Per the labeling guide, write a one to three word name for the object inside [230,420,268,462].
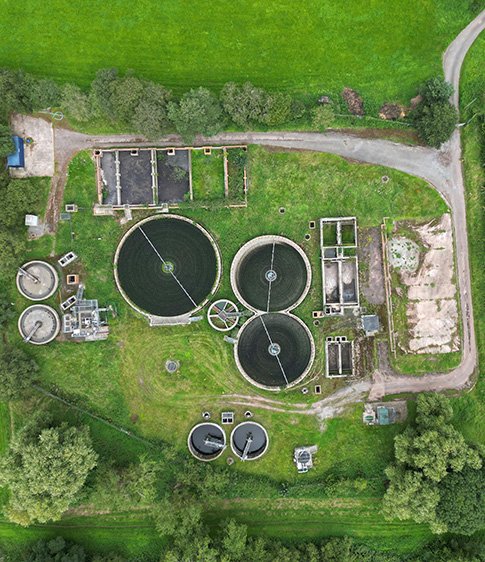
storage tank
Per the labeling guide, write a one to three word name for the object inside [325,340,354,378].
storage tank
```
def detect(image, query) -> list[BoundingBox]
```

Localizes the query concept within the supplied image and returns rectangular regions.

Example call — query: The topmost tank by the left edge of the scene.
[16,260,59,301]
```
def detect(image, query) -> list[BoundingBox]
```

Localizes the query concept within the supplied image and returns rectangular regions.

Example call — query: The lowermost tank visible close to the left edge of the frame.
[19,304,61,345]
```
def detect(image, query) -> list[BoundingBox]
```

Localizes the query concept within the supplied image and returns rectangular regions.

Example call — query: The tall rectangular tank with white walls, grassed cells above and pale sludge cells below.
[319,217,359,314]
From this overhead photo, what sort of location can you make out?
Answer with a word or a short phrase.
industrial area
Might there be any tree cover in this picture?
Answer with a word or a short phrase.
Yes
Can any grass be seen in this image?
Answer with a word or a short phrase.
Yes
